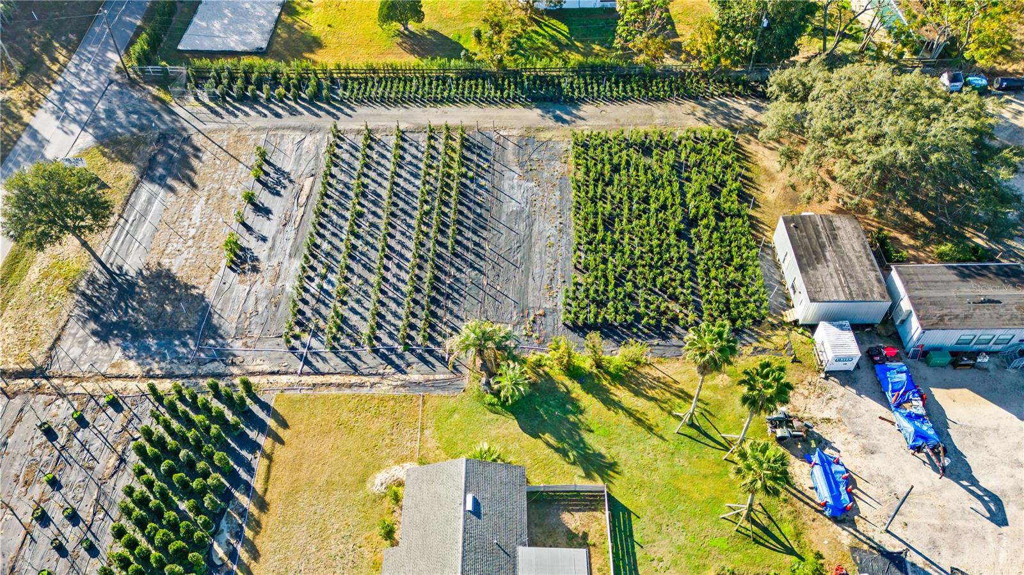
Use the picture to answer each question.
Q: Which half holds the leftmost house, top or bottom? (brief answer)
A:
bottom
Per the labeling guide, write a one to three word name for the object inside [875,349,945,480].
trailer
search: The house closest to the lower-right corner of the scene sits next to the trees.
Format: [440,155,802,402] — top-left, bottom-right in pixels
[884,264,1024,349]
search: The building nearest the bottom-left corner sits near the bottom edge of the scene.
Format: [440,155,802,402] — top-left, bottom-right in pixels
[381,459,529,575]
